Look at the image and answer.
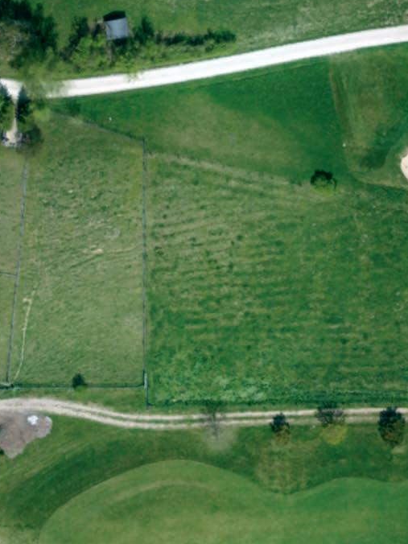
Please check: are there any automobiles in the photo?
No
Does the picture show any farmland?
Yes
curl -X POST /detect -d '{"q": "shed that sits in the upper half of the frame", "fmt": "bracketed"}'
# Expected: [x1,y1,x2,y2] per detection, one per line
[103,15,129,41]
